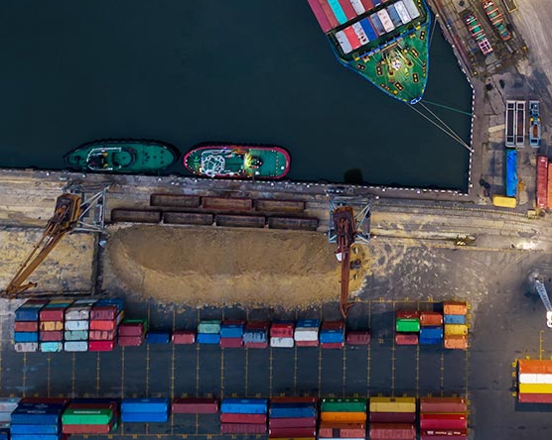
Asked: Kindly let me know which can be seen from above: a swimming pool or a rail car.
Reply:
rail car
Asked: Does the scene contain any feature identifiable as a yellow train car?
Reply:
No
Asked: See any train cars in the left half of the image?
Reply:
Yes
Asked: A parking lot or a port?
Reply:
port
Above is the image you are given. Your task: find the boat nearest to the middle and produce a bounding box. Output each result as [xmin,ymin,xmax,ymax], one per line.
[182,146,288,180]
